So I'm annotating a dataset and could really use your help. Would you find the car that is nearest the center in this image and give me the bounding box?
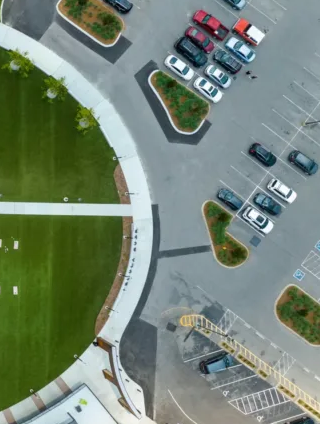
[214,185,248,214]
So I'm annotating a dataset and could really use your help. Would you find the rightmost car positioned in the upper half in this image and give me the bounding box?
[286,148,319,177]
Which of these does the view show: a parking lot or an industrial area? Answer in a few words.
parking lot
